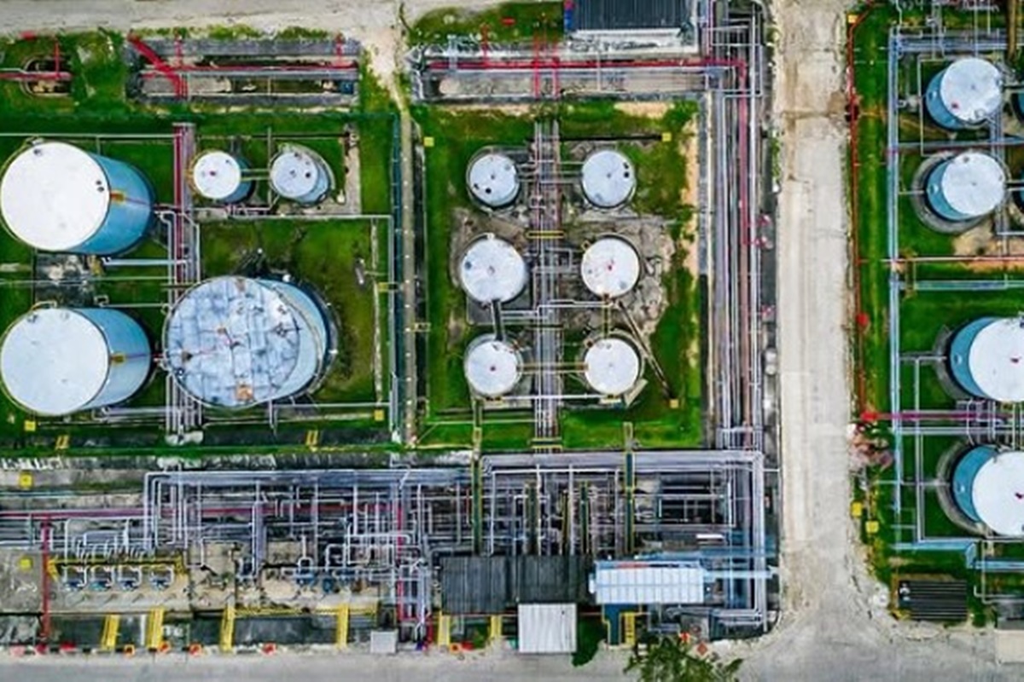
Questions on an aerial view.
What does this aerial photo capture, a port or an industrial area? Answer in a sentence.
The picture captures an industrial area.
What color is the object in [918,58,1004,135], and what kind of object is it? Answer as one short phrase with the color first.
white storage tank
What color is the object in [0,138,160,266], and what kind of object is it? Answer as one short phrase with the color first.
white storage tank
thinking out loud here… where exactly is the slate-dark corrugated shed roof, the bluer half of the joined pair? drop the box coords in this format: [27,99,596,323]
[441,547,516,613]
